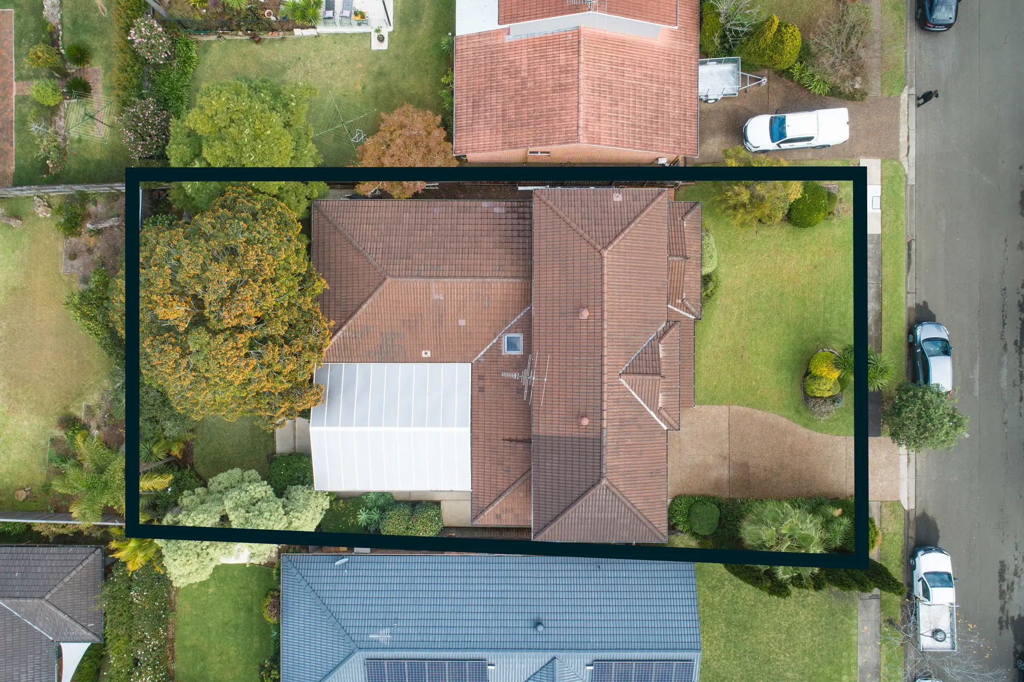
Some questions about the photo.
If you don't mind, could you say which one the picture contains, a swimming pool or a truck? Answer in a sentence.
The image shows a truck.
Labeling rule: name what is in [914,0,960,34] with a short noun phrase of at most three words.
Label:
car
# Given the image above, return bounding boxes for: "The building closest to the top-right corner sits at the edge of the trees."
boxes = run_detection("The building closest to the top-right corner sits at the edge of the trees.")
[451,0,701,164]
